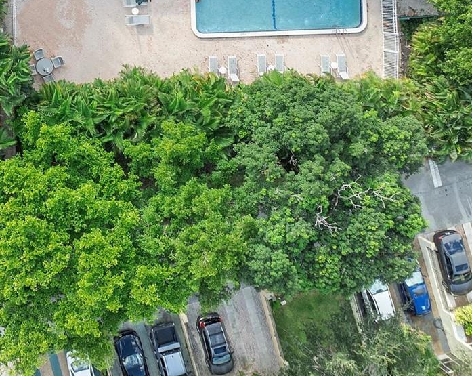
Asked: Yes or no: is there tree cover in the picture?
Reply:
Yes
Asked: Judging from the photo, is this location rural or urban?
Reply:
rural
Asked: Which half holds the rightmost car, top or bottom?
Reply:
bottom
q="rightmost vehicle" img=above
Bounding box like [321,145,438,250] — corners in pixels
[429,225,472,294]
